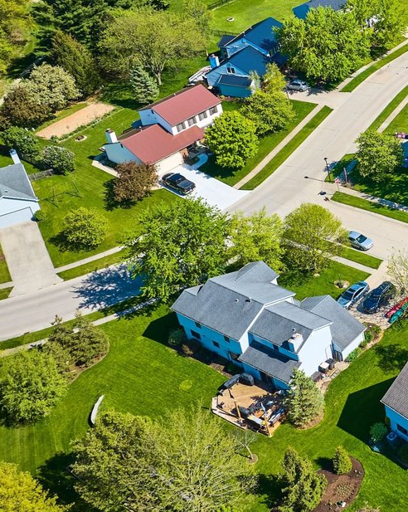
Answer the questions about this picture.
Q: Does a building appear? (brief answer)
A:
Yes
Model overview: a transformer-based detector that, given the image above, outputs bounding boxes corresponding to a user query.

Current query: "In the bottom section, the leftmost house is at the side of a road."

[169,262,368,395]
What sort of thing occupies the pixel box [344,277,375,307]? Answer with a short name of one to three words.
car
